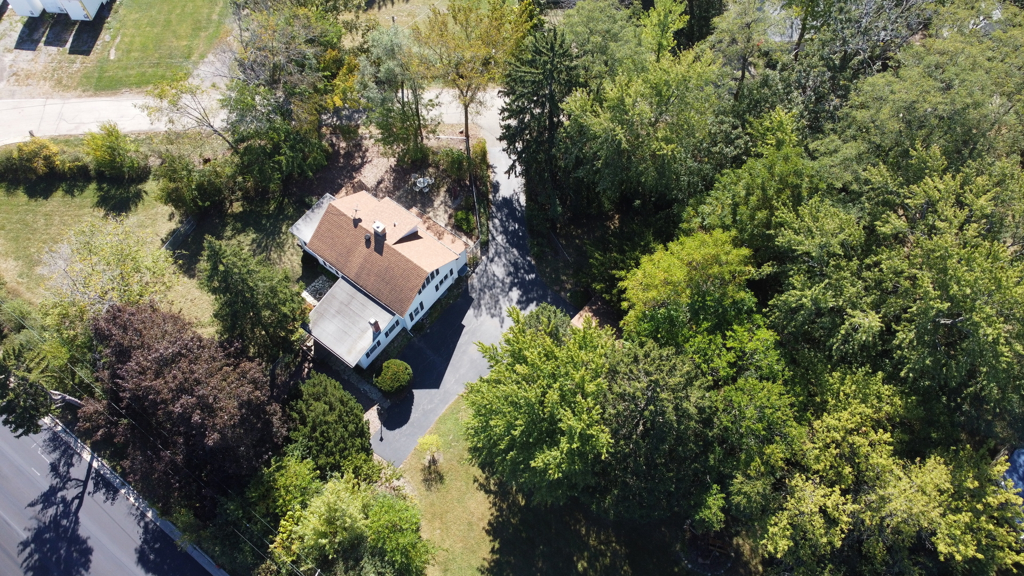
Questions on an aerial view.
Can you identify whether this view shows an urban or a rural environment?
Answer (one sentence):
The area is rural.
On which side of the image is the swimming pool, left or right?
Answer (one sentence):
The swimming pool sits on the right side.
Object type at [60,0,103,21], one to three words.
trailer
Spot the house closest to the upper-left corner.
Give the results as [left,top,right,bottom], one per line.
[286,191,472,370]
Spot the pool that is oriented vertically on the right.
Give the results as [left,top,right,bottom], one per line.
[1004,441,1024,499]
